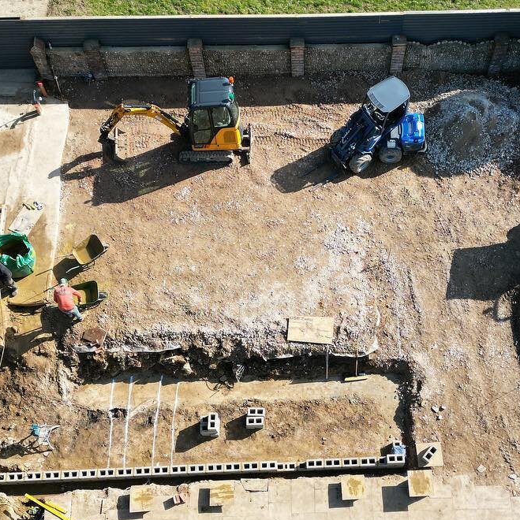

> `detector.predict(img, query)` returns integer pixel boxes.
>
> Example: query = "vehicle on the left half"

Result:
[105,73,259,164]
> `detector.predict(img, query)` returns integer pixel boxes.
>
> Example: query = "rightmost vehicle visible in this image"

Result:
[297,70,430,198]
